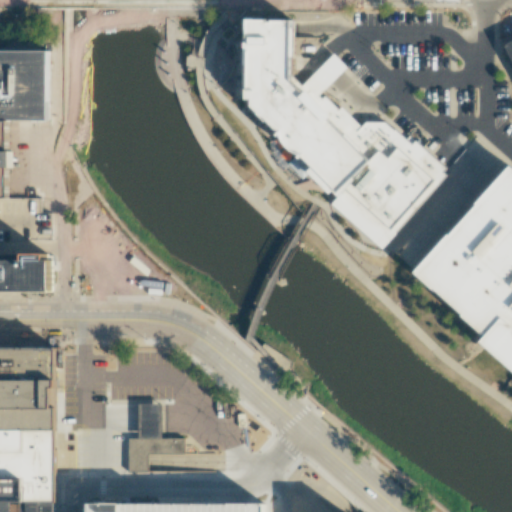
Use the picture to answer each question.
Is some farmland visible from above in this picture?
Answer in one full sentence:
No, there's no farmland in this view.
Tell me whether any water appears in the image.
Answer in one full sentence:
Yes, the picture does contain water.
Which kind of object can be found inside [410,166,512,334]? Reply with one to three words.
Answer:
building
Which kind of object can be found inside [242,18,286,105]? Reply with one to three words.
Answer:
building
